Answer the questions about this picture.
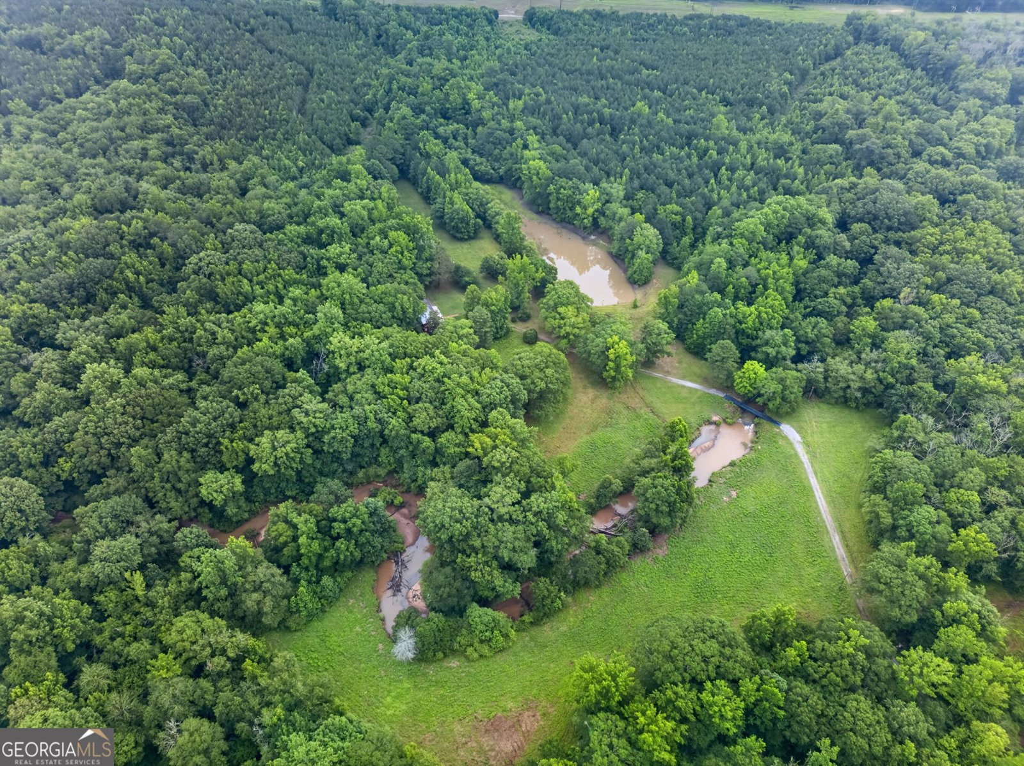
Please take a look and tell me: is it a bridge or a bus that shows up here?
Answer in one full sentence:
Looking from above, you can make out a bridge.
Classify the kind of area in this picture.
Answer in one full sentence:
It's a forest.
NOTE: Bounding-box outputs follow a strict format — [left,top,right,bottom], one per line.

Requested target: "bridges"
[721,391,790,429]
